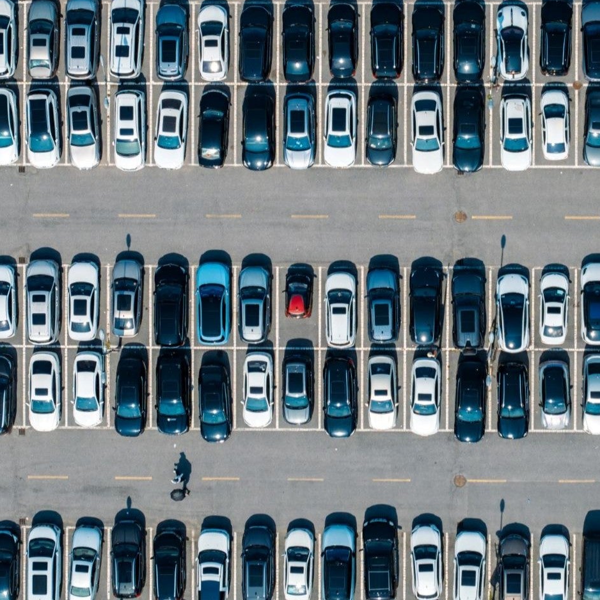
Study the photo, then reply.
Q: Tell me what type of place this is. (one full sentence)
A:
The picture captures a parking lot.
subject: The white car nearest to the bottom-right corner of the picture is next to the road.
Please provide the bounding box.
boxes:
[536,533,574,600]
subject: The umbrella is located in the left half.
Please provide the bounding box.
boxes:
[173,486,188,502]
